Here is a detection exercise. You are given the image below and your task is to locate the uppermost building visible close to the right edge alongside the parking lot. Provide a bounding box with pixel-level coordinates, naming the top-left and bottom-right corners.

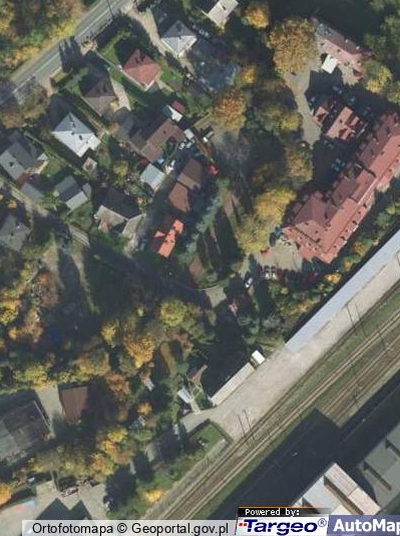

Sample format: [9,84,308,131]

[284,105,400,267]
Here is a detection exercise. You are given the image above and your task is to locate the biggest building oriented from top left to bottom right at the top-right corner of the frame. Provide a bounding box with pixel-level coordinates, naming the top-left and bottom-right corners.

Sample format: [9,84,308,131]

[304,18,371,76]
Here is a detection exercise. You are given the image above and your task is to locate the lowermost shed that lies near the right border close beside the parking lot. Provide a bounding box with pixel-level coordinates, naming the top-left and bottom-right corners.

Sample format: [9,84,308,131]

[284,233,400,352]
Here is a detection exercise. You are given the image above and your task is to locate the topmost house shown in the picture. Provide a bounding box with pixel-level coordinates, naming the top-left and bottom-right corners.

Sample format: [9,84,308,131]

[208,0,240,27]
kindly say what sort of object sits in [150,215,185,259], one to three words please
house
